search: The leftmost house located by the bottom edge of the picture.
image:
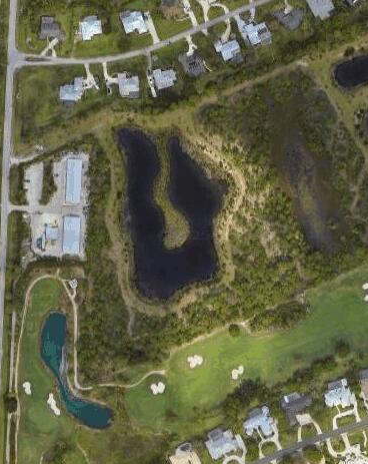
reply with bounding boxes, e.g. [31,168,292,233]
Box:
[169,443,201,464]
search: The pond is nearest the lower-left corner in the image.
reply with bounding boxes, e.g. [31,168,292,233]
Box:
[41,313,112,427]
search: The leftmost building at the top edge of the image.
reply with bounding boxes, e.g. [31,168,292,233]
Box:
[41,16,64,40]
